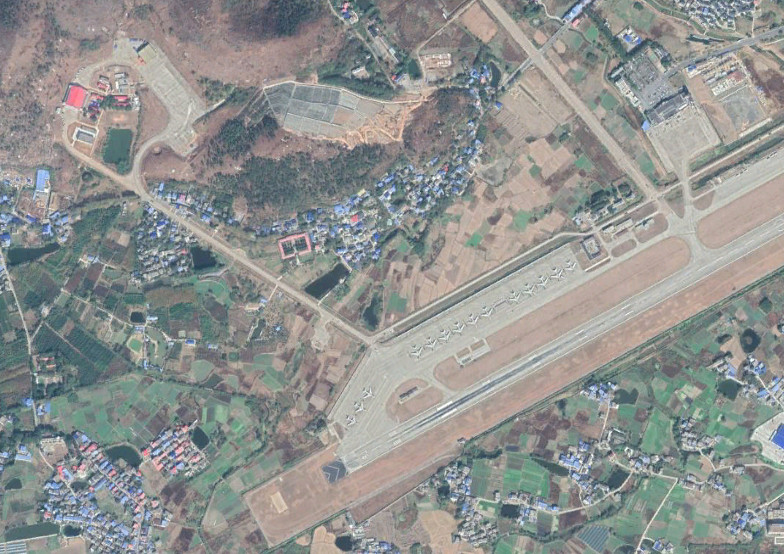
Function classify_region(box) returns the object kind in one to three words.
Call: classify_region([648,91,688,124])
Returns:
building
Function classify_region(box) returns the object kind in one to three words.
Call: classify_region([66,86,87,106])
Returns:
building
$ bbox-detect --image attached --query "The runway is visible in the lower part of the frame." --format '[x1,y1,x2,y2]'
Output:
[339,212,784,474]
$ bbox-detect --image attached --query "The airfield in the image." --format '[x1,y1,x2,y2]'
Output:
[243,105,784,548]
